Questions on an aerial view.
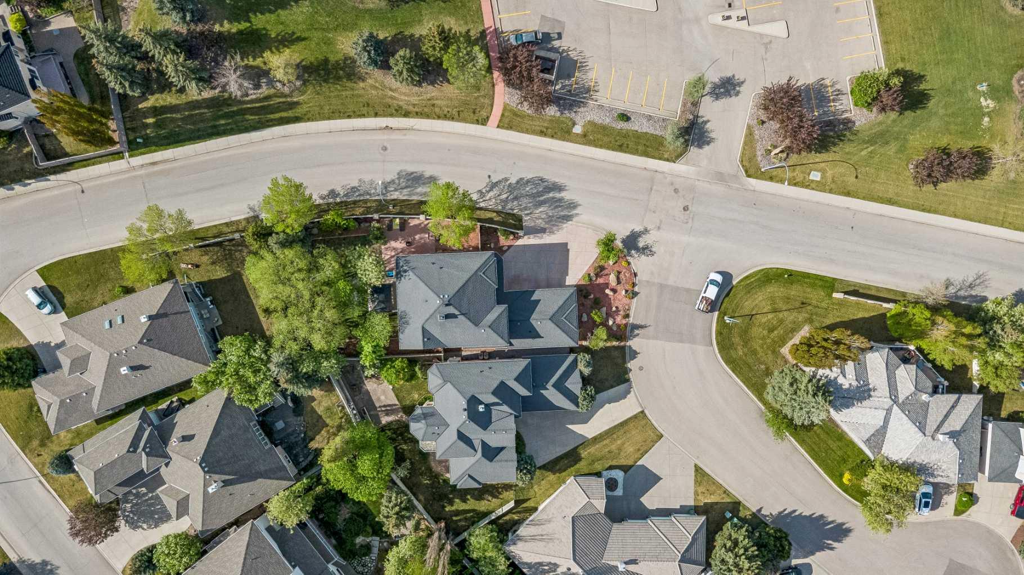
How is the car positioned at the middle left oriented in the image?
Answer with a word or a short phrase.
diagonally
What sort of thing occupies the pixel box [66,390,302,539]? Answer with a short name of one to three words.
house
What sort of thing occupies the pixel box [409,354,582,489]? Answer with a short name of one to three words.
house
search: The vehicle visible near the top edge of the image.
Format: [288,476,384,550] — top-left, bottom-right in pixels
[510,25,544,46]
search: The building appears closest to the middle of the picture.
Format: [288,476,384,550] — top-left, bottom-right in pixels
[395,251,578,350]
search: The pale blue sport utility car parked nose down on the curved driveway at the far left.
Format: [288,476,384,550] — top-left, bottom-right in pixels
[20,285,52,317]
